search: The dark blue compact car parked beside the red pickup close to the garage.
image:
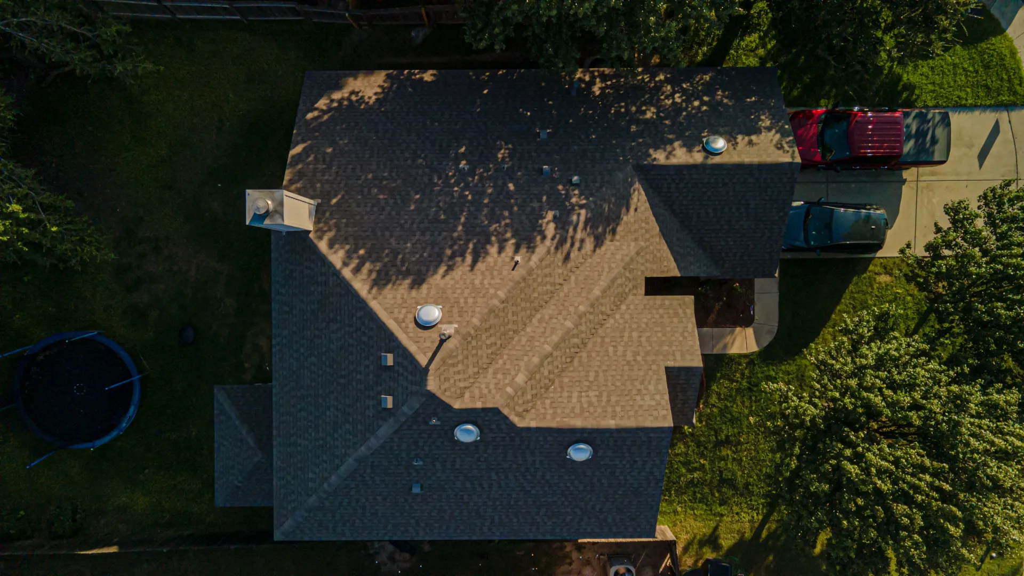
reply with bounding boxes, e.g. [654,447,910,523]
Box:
[783,195,887,257]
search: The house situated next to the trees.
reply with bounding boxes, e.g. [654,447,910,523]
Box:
[214,66,800,542]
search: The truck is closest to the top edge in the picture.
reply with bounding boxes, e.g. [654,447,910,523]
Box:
[788,100,952,174]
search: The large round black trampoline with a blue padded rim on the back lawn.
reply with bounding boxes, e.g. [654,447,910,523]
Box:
[0,328,148,462]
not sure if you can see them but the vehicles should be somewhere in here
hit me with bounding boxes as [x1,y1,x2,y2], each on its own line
[783,195,887,257]
[788,100,952,174]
